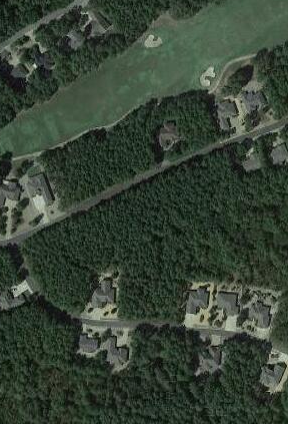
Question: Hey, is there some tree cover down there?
Yes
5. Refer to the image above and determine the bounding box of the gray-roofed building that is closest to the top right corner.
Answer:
[240,87,266,111]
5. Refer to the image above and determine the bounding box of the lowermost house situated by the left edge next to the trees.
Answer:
[0,291,26,312]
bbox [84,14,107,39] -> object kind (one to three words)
house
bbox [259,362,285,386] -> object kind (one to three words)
house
